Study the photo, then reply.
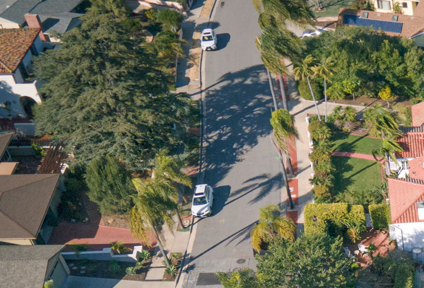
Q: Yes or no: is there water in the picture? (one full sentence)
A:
No, the scene doesn't show any water.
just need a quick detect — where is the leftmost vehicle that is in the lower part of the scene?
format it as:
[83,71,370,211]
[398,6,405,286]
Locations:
[187,178,215,214]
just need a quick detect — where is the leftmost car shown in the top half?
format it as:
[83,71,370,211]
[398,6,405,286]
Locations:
[198,30,216,48]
